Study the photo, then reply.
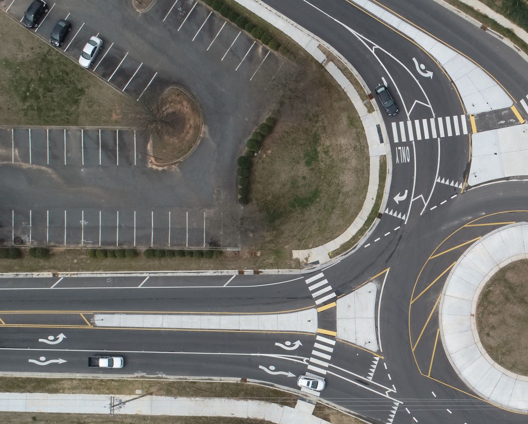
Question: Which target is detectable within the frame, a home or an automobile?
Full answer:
It is an automobile that can be seen here.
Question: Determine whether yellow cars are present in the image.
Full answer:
No, I find no yellow car anywhere in the image.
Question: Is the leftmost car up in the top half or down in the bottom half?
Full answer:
It is in the top half that the leftmost car appears.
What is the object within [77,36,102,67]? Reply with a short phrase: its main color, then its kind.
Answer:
white car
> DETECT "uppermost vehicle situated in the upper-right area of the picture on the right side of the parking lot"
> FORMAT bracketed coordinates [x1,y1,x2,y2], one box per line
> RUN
[376,85,398,117]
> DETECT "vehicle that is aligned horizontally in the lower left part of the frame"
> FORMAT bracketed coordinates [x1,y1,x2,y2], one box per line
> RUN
[87,356,126,369]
